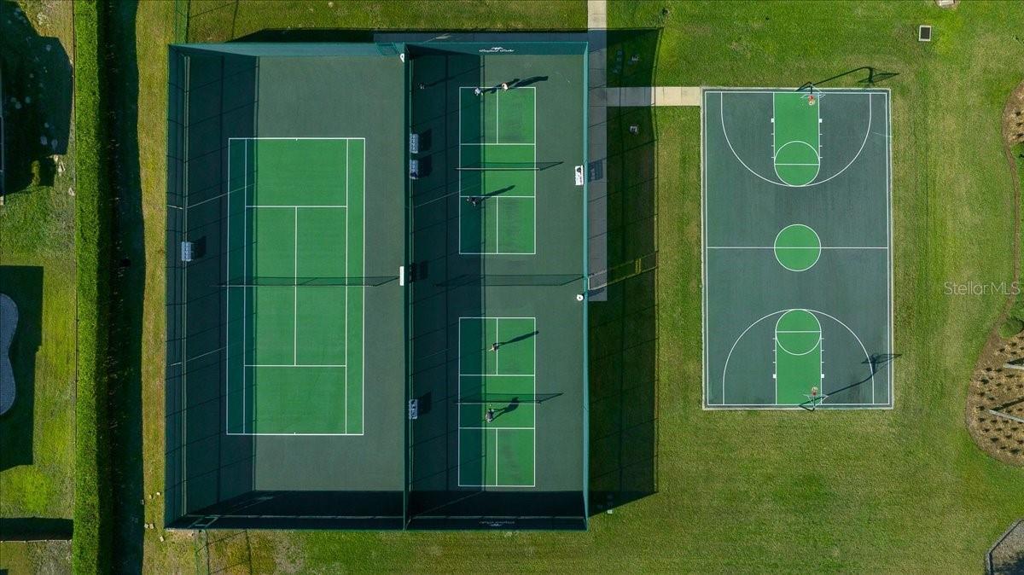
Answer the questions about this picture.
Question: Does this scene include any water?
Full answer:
No, no water is visible.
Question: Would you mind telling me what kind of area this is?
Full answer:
What you see here is a sports ground.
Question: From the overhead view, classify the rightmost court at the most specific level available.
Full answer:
Looking closely, the rightmost court is a basketball court.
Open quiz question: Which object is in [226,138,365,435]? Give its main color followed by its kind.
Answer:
green tennis court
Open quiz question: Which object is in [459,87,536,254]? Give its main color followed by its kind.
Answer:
green sports court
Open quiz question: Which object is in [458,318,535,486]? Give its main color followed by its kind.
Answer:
green sports court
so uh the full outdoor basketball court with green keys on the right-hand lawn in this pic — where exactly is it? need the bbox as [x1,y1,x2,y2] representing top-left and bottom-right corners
[702,88,894,409]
